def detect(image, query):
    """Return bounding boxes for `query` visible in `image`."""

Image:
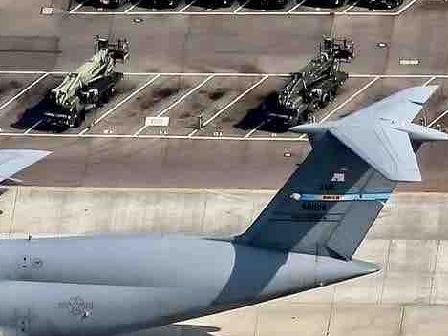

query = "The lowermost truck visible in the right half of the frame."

[272,31,350,134]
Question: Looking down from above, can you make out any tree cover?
No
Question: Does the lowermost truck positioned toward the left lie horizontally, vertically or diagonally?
diagonally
